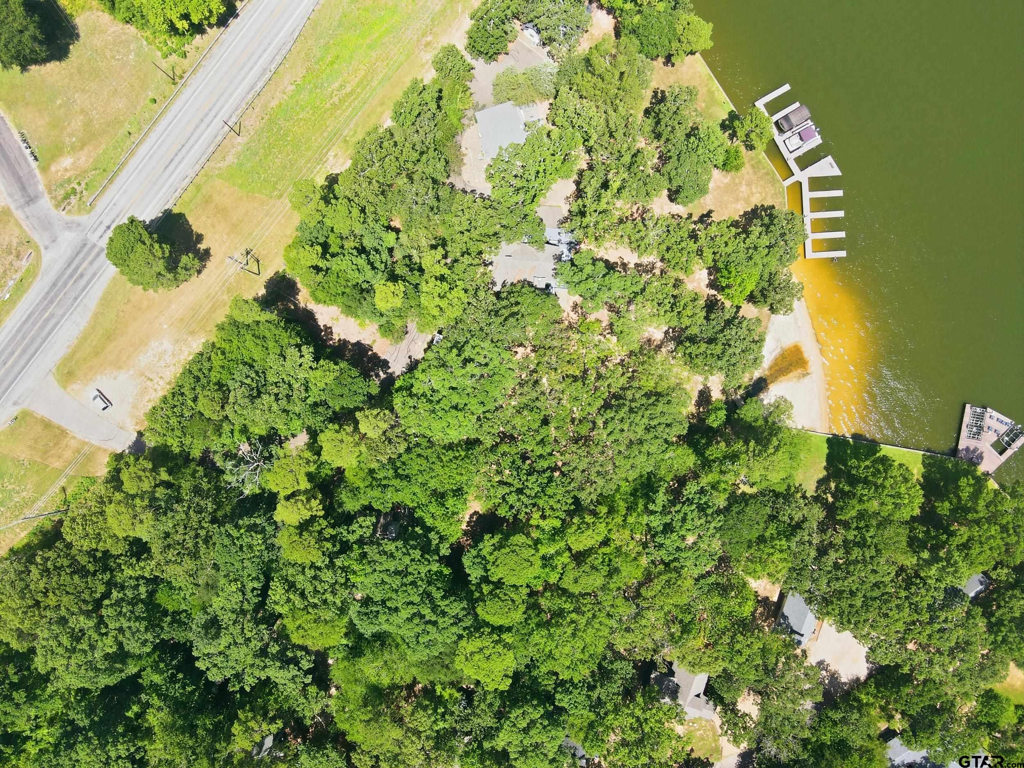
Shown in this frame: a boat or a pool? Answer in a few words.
boat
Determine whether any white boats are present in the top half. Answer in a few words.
Yes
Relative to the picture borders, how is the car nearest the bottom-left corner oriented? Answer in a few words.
on a diagonal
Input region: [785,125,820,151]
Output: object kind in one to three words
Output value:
boat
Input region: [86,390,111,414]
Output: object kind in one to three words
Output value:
car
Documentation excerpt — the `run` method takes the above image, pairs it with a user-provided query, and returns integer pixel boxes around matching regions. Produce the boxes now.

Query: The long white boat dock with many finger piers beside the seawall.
[753,83,846,258]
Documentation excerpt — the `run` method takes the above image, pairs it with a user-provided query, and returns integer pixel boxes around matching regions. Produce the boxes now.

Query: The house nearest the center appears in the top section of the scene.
[493,228,573,293]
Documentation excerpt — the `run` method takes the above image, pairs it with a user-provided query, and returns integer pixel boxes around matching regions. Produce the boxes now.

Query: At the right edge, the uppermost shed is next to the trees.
[957,572,989,597]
